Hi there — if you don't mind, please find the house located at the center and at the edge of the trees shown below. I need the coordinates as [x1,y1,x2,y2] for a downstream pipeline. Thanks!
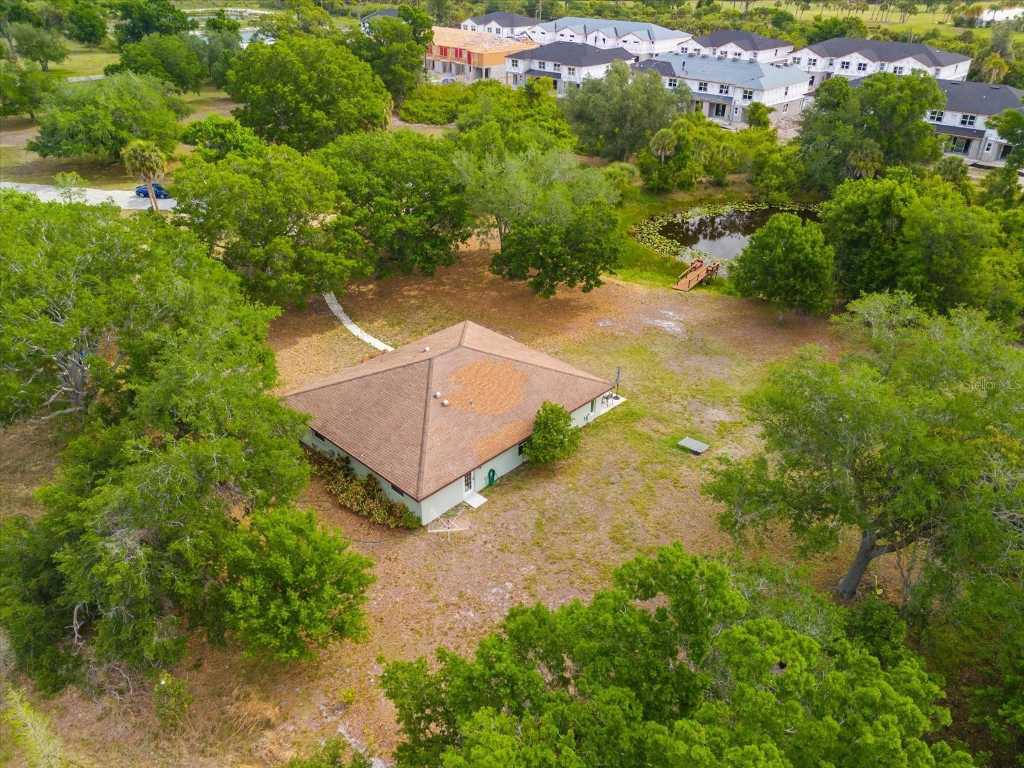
[284,319,613,526]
